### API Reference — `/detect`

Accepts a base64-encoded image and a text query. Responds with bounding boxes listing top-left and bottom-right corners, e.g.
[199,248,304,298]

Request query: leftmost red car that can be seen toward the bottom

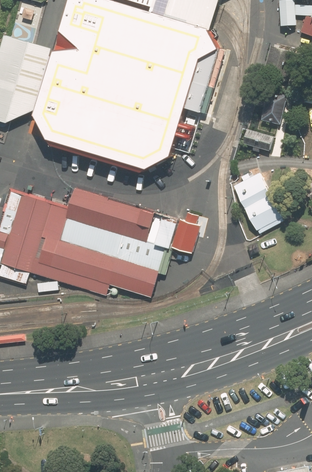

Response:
[197,398,212,414]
